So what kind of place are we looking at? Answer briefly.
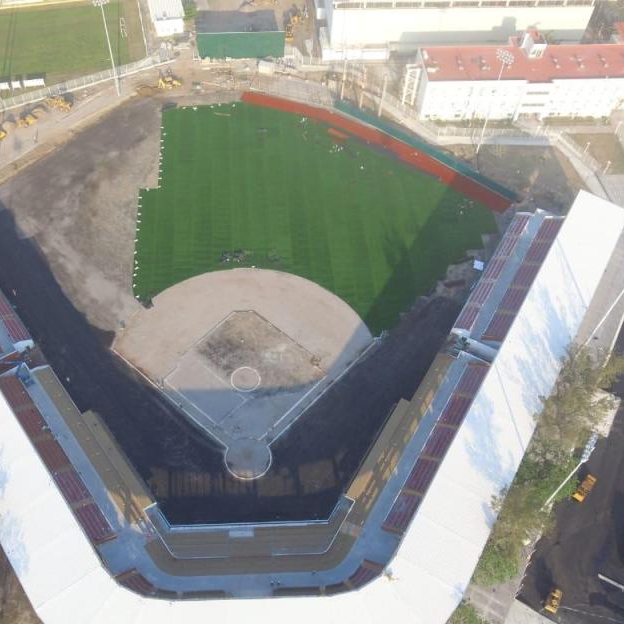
sports ground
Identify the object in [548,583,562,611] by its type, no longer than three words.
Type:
work vehicle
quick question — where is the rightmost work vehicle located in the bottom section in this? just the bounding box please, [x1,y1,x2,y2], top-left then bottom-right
[576,473,596,500]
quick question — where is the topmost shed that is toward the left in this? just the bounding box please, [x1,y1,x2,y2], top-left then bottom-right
[150,0,186,38]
